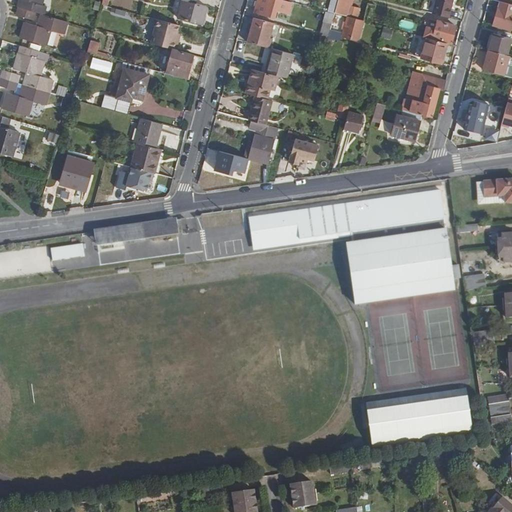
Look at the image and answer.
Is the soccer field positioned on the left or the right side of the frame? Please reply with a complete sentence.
It is on the left.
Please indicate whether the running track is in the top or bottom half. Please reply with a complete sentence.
Seen from above, the running track lies in the bottom half of the view.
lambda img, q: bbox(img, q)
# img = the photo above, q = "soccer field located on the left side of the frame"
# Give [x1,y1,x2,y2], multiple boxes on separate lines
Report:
[0,273,348,474]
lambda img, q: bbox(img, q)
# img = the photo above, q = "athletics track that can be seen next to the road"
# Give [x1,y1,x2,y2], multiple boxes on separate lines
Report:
[0,244,366,489]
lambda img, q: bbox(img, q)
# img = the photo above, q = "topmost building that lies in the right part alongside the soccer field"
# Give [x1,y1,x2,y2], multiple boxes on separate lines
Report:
[249,190,444,249]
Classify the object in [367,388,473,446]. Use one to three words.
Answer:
building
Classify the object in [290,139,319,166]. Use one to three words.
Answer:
house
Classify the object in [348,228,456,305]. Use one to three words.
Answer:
building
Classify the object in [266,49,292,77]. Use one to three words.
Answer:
house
